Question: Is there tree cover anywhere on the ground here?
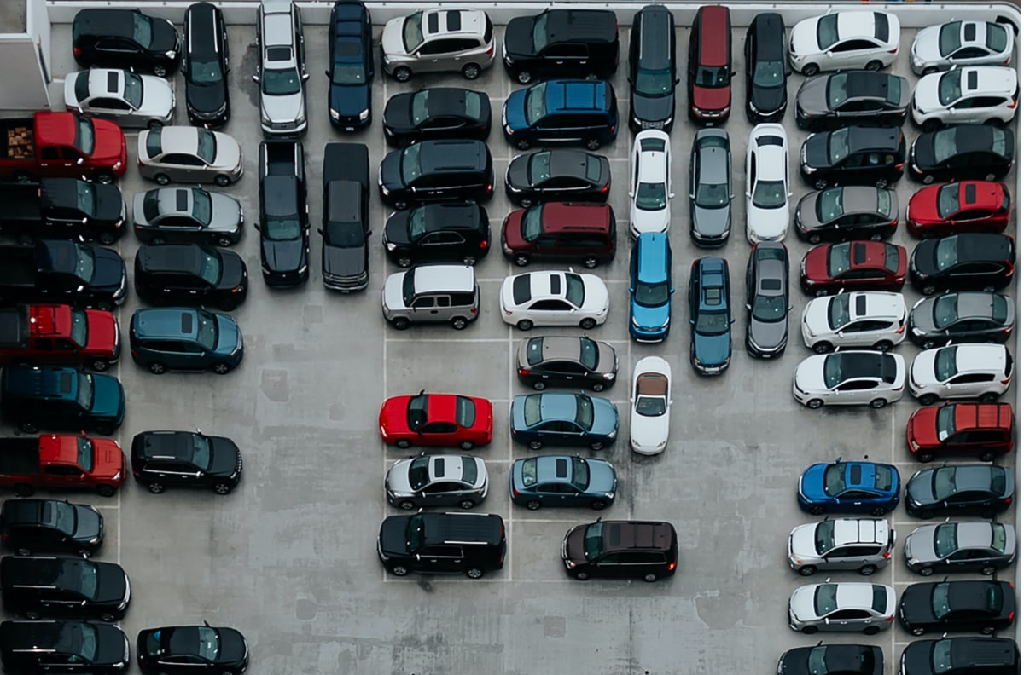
No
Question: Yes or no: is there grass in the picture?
No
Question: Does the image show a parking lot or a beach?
parking lot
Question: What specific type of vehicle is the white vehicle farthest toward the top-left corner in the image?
car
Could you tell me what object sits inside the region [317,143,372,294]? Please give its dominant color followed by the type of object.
black truck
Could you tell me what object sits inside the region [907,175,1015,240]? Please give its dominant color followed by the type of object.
red car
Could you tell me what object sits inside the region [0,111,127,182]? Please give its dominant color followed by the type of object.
red truck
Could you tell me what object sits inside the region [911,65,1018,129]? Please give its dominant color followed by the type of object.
white car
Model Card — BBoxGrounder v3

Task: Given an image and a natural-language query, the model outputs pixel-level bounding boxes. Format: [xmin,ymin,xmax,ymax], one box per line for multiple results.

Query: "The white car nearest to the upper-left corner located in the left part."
[64,66,175,128]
